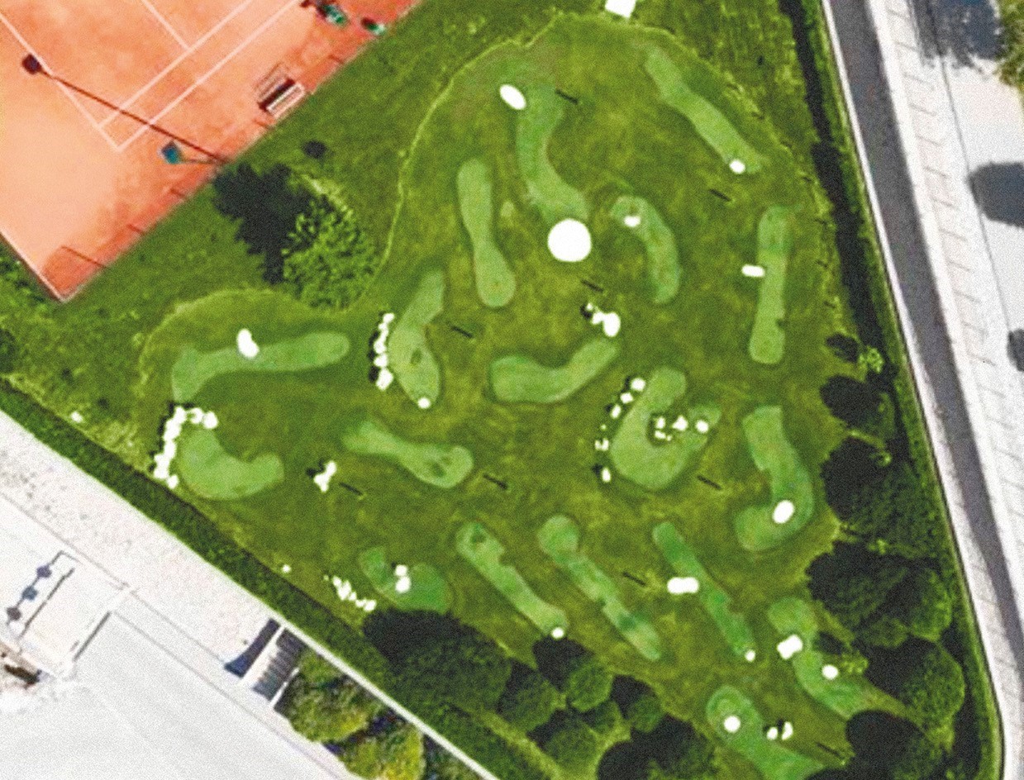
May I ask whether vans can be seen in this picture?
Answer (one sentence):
No, I can see no van in this picture.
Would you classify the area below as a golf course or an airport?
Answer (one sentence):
What you see here is a golf course.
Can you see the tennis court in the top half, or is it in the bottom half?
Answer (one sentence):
You can find the tennis court in the top half.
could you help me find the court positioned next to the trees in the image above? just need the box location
[0,0,423,303]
